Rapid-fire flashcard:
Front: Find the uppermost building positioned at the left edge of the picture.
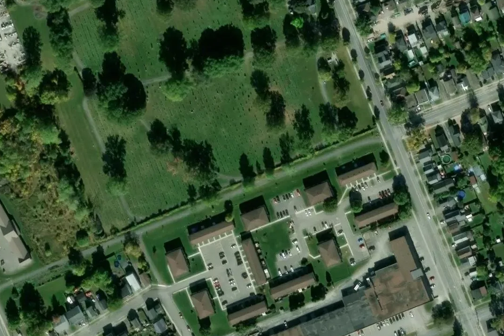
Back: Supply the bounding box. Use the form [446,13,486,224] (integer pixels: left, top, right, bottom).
[0,208,32,265]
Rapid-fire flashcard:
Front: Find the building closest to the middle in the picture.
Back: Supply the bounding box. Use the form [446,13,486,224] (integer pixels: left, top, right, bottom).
[239,205,271,232]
